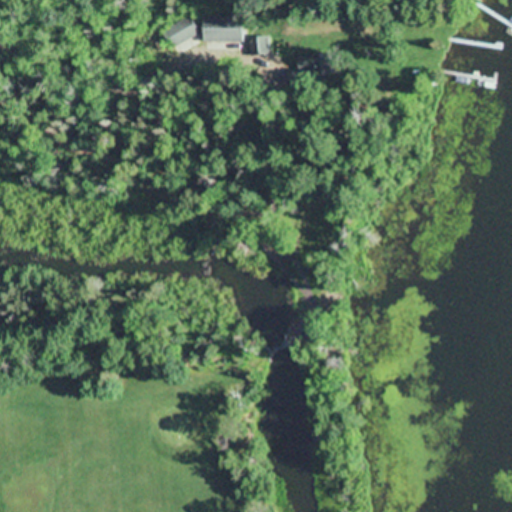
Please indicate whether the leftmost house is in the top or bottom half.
top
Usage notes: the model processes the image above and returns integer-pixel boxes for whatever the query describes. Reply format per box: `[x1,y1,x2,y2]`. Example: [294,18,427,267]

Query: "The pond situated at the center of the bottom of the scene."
[213,264,325,512]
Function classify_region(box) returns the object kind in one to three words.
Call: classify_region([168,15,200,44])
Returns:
house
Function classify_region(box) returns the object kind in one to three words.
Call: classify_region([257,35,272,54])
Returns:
shed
